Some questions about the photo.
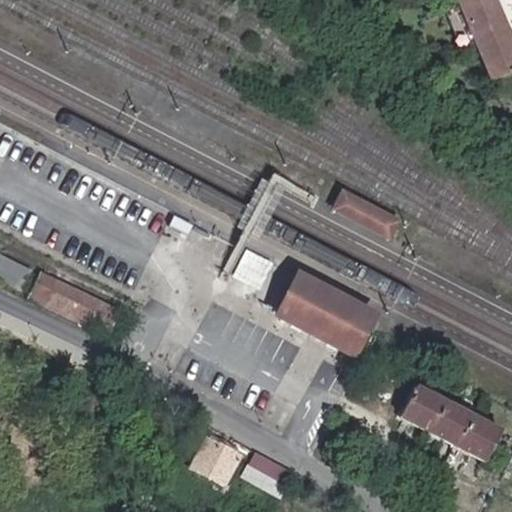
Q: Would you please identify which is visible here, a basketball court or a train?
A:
train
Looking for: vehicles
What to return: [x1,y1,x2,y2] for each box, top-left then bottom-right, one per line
[11,210,26,231]
[244,384,260,410]
[88,247,105,272]
[30,152,46,174]
[222,377,236,398]
[100,189,116,212]
[211,372,225,392]
[0,134,13,158]
[22,214,40,238]
[89,183,102,202]
[114,195,130,217]
[0,202,14,223]
[126,200,141,222]
[186,360,200,382]
[20,146,34,166]
[64,236,80,258]
[113,261,128,282]
[102,256,117,278]
[74,176,91,200]
[46,230,60,248]
[138,206,152,226]
[48,163,62,184]
[76,242,91,264]
[8,142,23,161]
[124,268,138,288]
[60,168,78,195]
[256,390,270,410]
[149,212,165,234]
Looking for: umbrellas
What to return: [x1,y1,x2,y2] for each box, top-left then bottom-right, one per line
[456,34,470,48]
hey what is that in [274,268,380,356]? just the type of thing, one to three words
building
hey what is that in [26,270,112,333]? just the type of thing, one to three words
shed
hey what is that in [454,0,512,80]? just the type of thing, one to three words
house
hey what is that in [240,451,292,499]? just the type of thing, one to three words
barn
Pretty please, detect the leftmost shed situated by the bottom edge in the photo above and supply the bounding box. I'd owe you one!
[189,436,246,490]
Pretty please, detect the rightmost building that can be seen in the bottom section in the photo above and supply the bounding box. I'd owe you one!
[400,384,503,463]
